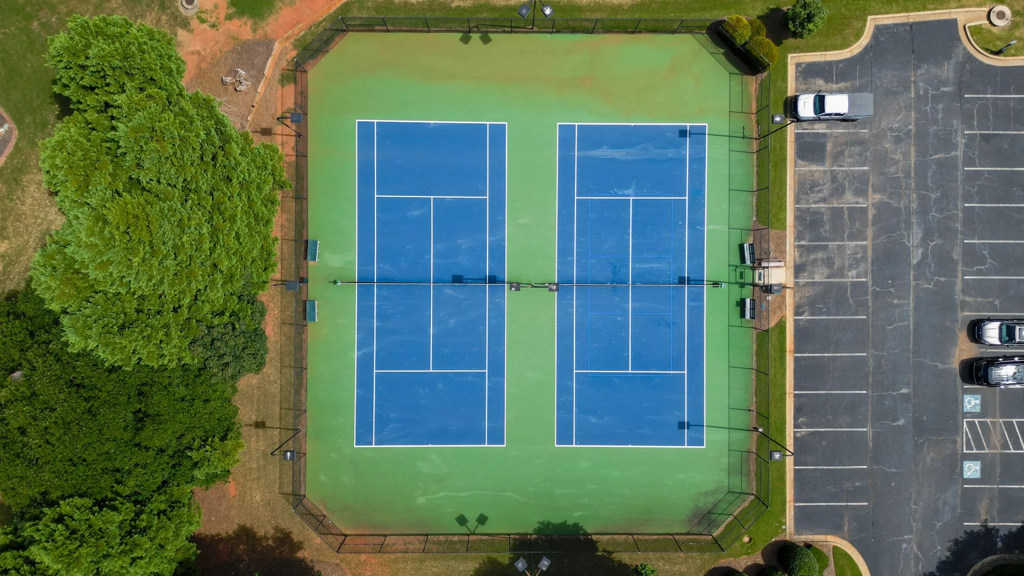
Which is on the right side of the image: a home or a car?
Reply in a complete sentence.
You can see a car on the right side of the image.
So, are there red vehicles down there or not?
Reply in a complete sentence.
No, no red vehicle can be seen from above.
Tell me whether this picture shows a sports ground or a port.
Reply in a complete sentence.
It's a sports ground.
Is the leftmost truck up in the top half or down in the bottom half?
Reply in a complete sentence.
You can find the leftmost truck in the top half.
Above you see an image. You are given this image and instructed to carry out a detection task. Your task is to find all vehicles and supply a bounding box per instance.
[792,88,873,122]
[971,356,1024,386]
[973,316,1024,349]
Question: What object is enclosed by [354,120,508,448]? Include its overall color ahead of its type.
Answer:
blue tennis court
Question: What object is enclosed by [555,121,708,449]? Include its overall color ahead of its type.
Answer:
blue tennis court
